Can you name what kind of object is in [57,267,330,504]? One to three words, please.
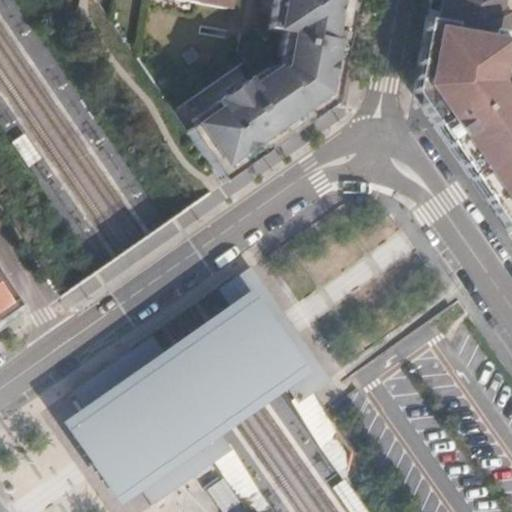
train station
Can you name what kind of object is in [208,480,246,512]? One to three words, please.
building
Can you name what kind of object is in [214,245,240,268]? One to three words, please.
vehicle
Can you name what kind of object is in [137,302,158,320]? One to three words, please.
car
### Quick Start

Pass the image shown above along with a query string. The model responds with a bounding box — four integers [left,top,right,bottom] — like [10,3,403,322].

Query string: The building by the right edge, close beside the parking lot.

[416,17,512,232]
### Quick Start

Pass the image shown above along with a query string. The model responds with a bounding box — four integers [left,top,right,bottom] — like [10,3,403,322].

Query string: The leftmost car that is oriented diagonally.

[96,296,116,312]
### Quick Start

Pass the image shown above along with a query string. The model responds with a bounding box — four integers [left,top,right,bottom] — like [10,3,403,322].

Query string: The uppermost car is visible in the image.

[419,136,436,156]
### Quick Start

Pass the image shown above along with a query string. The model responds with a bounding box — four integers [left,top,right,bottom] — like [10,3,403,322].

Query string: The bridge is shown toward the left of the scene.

[60,184,238,390]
